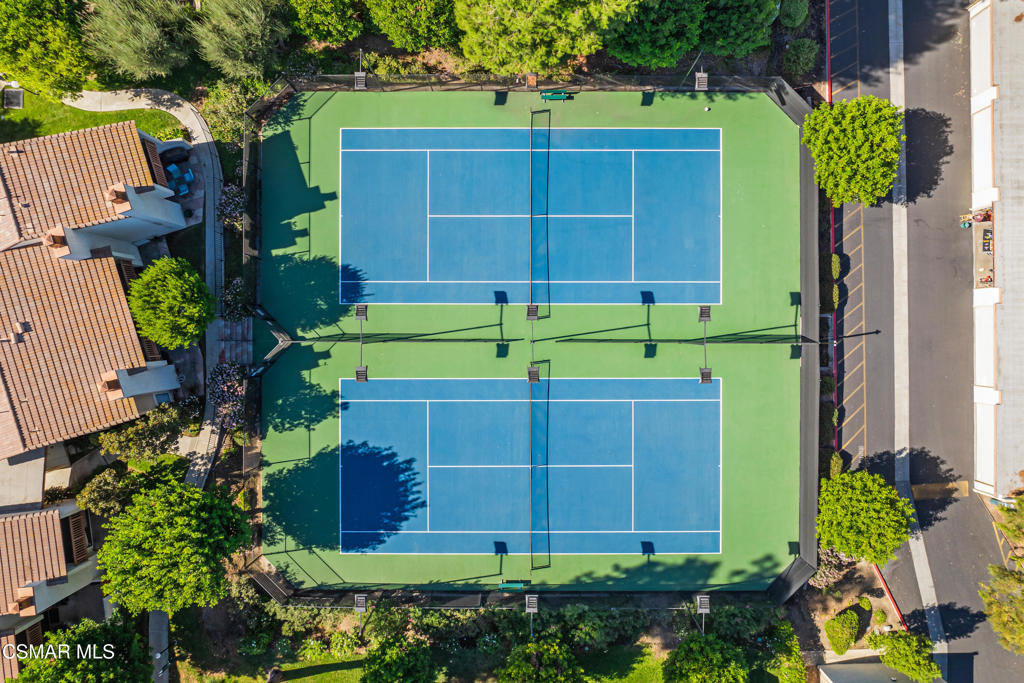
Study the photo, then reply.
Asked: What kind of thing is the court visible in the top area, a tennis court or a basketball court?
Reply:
tennis court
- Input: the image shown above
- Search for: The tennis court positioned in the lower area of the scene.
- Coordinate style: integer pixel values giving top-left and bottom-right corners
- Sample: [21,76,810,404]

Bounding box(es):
[256,342,800,591]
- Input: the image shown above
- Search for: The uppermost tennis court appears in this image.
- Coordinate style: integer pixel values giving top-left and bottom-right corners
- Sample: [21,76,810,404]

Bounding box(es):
[256,91,801,342]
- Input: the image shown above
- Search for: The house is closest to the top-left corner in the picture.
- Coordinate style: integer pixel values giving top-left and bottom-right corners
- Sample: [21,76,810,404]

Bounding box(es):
[0,118,186,252]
